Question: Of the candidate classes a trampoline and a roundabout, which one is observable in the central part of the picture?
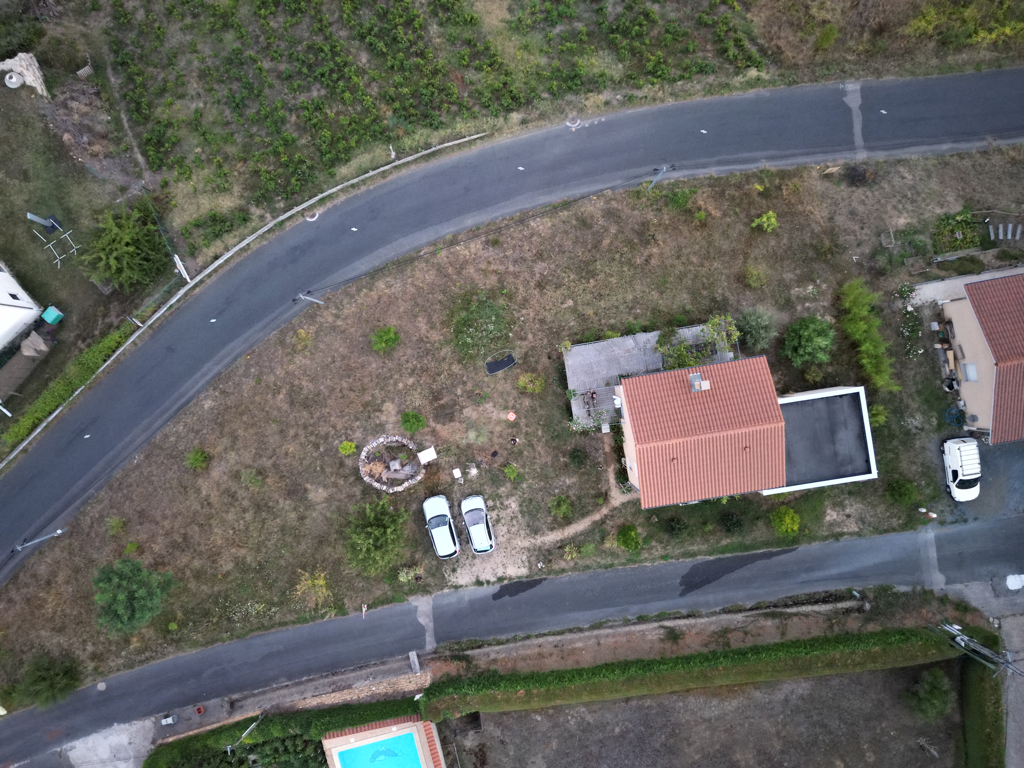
trampoline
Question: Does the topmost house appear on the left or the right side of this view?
left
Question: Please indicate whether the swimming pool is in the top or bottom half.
bottom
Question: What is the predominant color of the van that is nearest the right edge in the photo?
white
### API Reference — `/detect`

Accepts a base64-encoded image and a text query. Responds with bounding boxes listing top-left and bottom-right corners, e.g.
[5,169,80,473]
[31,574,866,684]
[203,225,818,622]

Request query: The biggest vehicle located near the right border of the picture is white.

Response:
[940,438,985,503]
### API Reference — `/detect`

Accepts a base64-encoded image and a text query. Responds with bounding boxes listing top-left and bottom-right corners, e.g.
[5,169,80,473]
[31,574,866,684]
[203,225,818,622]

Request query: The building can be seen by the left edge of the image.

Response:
[0,264,44,349]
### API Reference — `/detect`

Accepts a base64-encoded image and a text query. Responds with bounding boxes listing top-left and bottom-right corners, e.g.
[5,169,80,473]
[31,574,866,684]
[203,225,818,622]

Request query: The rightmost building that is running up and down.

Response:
[942,272,1024,446]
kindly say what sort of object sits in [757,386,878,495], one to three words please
building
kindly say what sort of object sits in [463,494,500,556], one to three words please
car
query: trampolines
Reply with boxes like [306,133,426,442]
[484,350,517,375]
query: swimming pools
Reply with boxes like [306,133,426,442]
[322,721,433,768]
